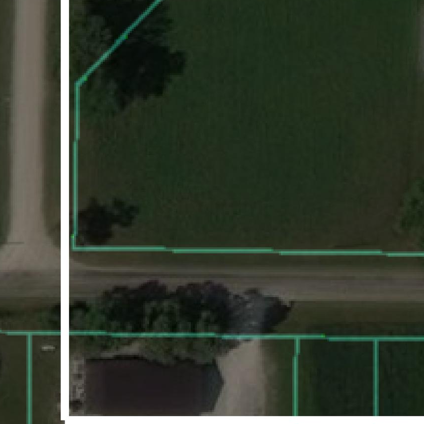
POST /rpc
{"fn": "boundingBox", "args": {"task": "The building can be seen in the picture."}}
[85,356,203,417]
